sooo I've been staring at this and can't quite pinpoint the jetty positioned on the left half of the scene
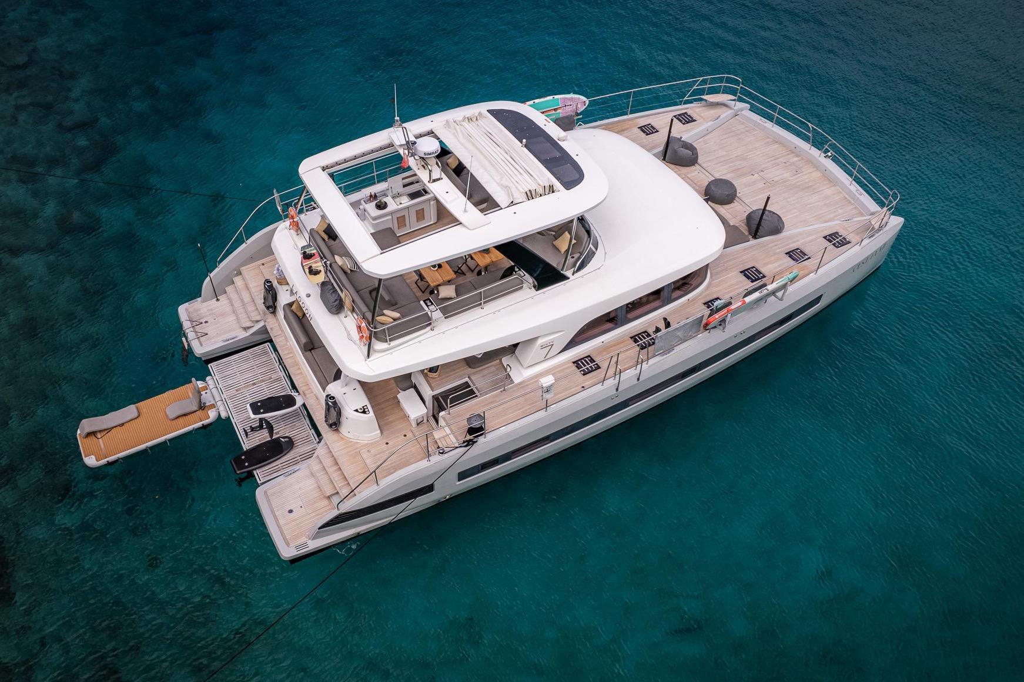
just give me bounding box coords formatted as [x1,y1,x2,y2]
[78,383,219,471]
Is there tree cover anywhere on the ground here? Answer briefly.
No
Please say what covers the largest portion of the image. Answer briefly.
water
